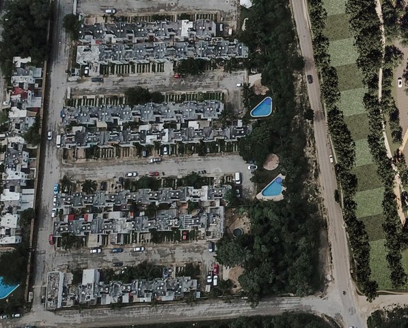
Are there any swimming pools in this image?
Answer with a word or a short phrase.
Yes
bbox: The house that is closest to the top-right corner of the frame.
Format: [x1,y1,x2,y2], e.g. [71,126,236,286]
[225,43,249,61]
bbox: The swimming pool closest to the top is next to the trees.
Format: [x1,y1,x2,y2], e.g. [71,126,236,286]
[250,97,272,118]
